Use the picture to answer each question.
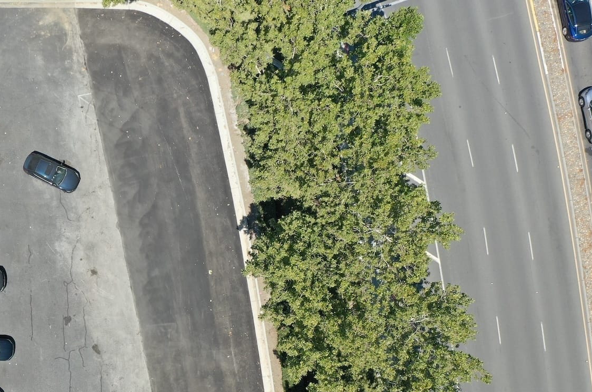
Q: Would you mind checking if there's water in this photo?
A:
No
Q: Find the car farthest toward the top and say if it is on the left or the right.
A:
right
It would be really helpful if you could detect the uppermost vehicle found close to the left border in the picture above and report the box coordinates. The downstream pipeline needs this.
[21,151,81,191]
